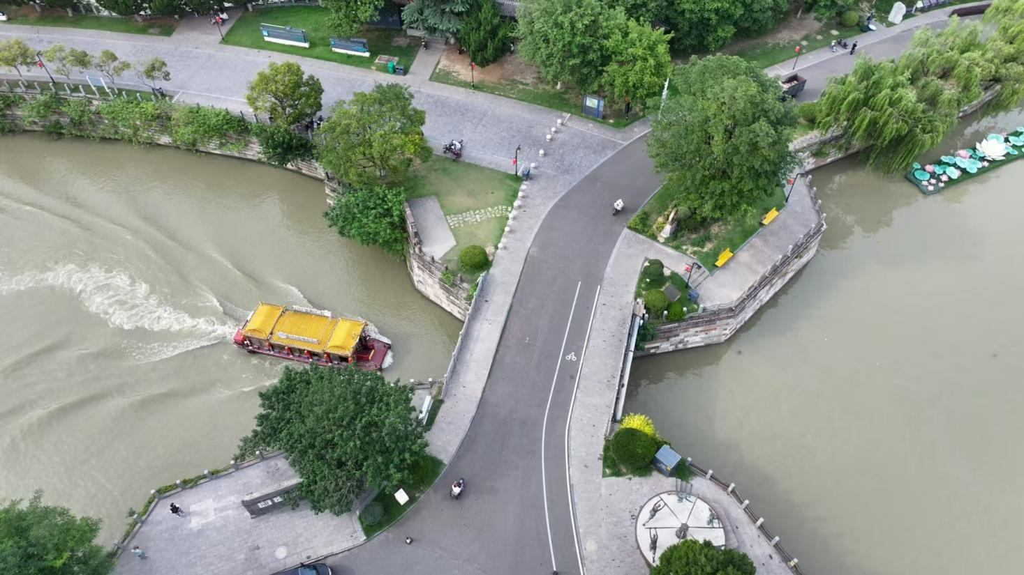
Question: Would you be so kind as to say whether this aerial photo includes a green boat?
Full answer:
No, no green boat is visible in the view.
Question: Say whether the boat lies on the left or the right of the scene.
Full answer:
You can find the boat on the left side of the picture.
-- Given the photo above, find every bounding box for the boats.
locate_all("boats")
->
[235,297,394,376]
